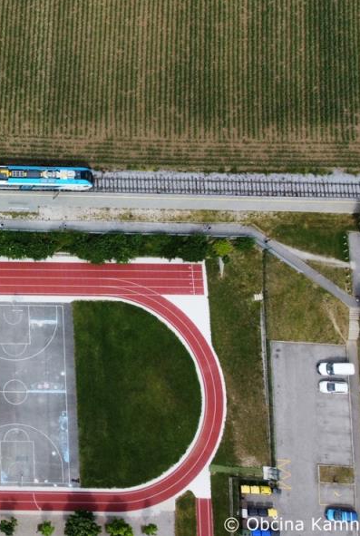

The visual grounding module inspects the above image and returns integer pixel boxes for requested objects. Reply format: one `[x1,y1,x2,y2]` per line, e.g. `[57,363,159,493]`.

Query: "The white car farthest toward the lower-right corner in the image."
[316,380,349,395]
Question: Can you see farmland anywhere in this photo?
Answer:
Yes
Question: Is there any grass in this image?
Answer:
Yes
